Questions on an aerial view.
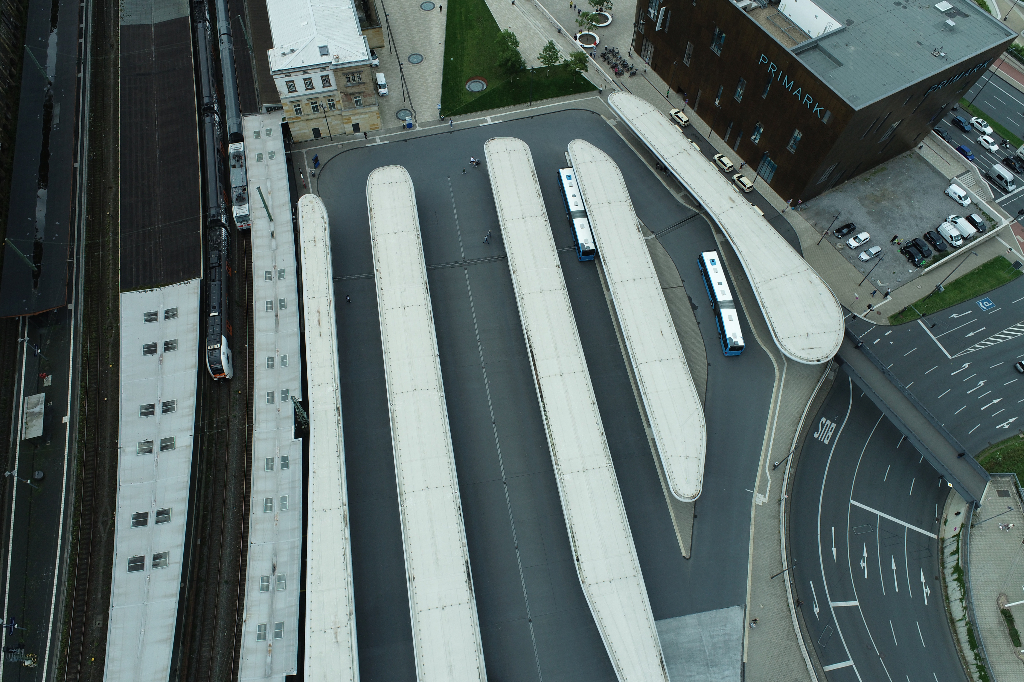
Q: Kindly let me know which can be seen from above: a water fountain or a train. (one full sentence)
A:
There is a train in the scene.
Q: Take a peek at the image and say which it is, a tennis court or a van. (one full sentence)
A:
This aerial view contains a van.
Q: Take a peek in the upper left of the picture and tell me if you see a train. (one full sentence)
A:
Yes, in the upper left of the picture there is a train.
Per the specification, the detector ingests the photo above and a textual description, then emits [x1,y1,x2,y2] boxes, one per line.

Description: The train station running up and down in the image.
[0,0,293,682]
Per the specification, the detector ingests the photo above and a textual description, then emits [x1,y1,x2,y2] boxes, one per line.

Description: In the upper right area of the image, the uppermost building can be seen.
[634,0,1017,203]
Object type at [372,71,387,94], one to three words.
vehicle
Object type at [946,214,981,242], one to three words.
van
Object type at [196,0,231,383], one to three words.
train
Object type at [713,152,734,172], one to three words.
car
